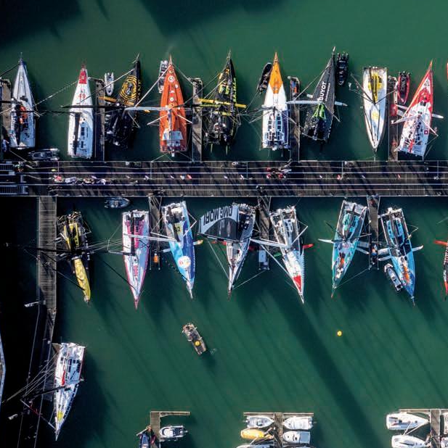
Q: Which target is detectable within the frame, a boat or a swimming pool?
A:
boat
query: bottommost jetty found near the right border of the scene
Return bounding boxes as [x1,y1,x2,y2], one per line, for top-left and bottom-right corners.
[399,409,448,448]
